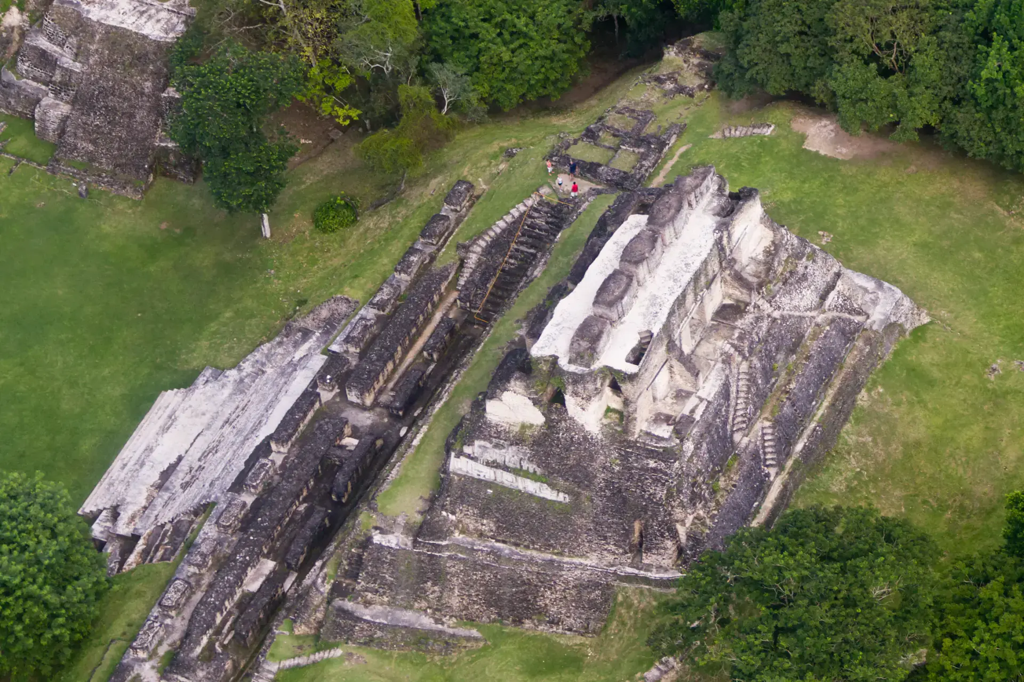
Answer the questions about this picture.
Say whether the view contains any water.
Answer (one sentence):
No, no water is visible.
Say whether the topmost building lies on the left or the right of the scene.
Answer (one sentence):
You can find the topmost building on the left side of the picture.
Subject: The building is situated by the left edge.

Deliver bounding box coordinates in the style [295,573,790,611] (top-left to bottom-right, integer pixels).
[0,0,199,205]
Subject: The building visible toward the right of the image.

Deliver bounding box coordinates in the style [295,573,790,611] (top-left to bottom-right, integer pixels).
[302,173,930,654]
